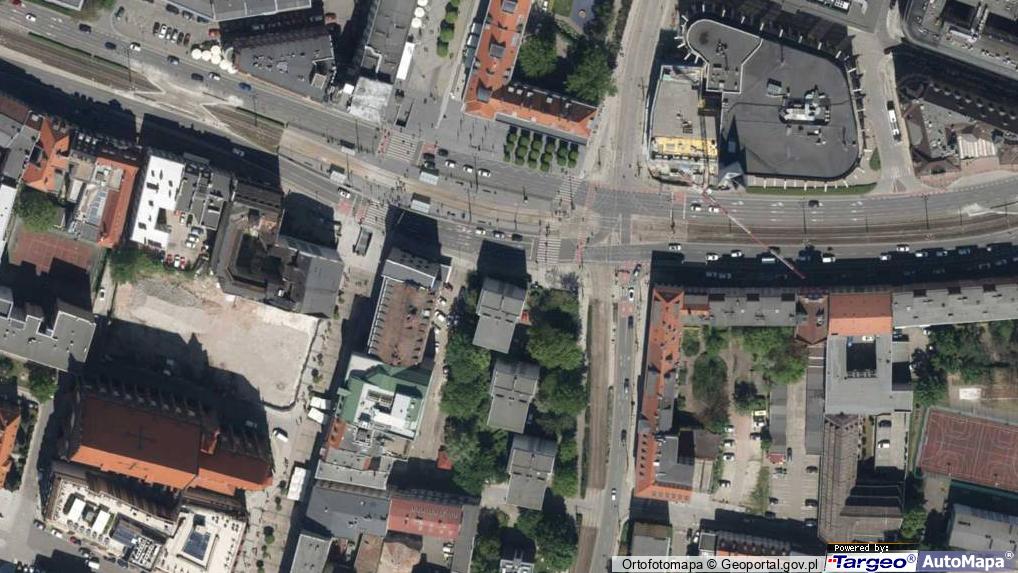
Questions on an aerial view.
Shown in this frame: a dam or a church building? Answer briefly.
church building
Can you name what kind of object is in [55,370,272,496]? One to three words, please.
church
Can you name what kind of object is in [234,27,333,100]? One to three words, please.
building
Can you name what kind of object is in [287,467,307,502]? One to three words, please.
tent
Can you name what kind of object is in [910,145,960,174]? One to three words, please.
house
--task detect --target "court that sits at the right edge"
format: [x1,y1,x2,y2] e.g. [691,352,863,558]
[919,408,1018,493]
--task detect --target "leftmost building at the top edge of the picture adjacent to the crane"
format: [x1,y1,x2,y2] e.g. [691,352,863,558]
[460,0,597,145]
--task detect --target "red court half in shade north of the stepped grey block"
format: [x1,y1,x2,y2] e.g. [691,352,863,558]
[5,230,98,308]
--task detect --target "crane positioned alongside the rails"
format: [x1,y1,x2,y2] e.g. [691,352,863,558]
[671,156,802,277]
